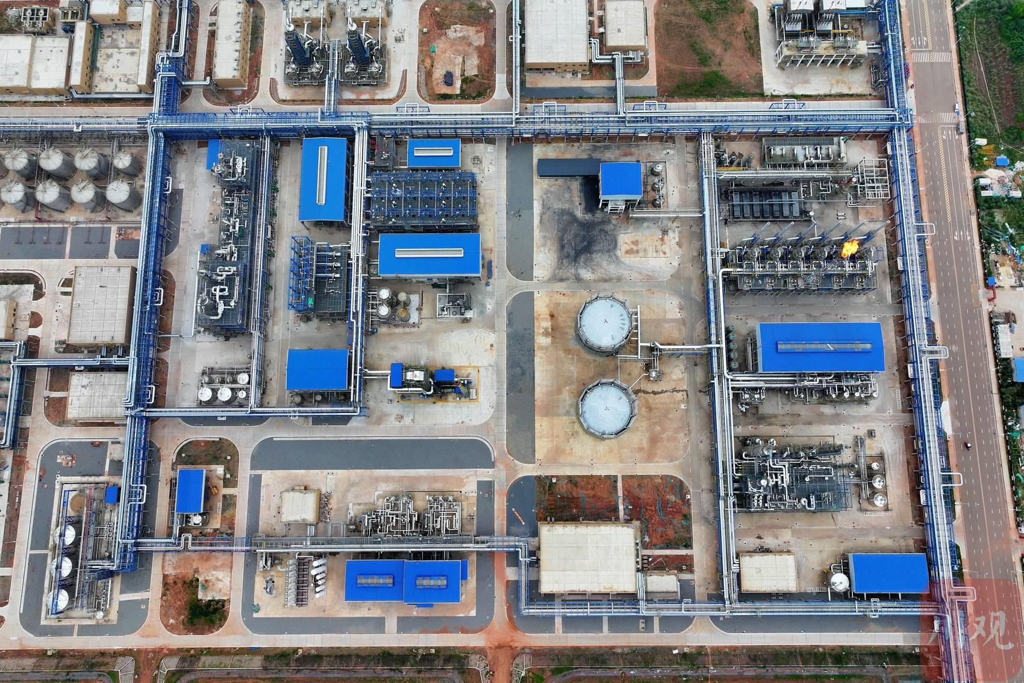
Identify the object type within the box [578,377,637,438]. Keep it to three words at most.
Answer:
storage tank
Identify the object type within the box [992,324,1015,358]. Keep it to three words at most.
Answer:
building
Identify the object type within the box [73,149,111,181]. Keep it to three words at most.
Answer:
silo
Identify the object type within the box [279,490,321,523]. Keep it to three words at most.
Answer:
shed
